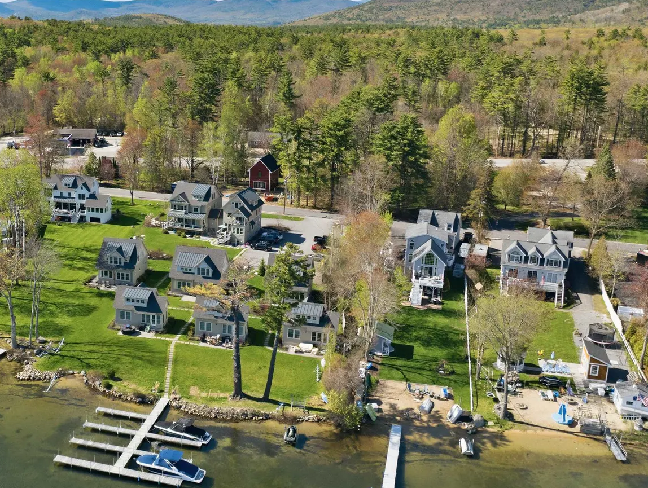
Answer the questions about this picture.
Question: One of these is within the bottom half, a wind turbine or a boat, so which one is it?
boat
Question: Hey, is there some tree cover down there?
Yes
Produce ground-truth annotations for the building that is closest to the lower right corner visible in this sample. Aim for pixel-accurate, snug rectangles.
[610,368,648,418]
